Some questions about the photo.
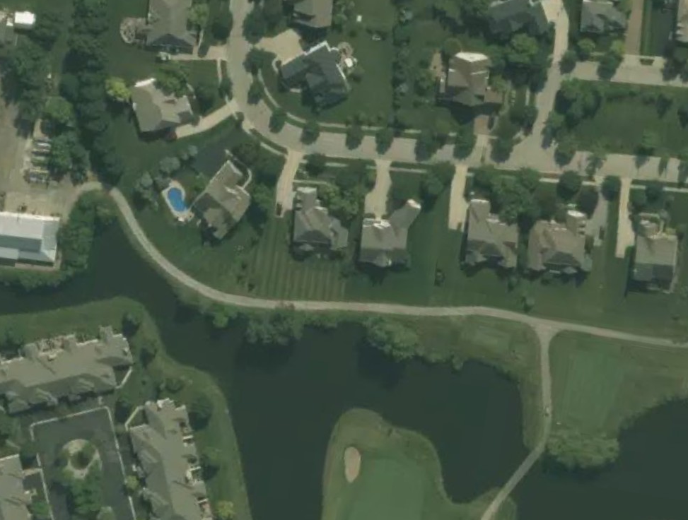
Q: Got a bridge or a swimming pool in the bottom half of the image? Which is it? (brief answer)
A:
bridge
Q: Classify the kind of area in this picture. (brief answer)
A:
residential area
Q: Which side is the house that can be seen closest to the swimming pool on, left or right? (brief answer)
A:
left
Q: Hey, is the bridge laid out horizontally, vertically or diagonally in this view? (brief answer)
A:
diagonally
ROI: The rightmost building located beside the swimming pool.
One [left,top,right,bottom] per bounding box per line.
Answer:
[195,157,257,240]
